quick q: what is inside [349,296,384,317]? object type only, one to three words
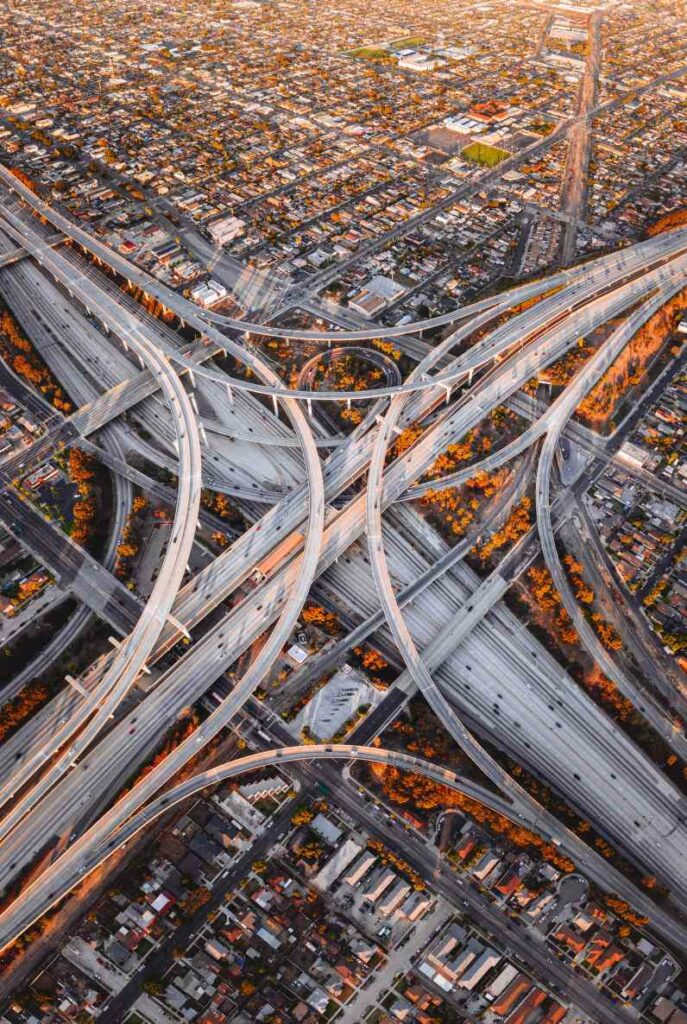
building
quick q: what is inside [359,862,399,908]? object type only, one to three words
building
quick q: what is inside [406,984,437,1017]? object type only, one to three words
house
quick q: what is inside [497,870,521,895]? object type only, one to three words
house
